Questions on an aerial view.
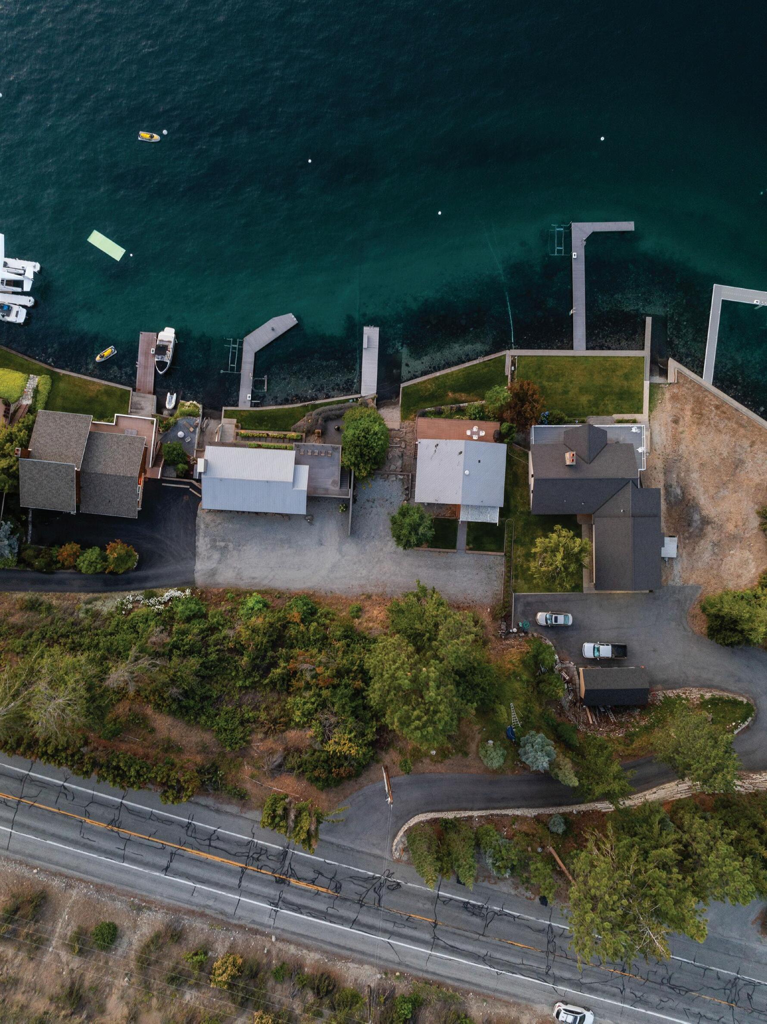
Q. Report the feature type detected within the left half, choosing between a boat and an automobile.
boat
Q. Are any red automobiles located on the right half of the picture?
No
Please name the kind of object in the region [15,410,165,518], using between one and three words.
house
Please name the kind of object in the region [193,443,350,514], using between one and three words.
house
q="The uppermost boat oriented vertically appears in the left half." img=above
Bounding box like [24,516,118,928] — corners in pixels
[155,323,175,372]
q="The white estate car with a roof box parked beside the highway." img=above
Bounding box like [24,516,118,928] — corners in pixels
[553,1001,593,1024]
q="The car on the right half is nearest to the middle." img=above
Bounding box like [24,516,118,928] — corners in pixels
[535,611,572,628]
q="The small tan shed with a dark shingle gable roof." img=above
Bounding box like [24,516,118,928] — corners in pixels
[580,665,649,705]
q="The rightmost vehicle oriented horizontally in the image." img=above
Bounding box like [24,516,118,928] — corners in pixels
[582,642,627,660]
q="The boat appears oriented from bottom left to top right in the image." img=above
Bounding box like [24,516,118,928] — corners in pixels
[97,345,118,361]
